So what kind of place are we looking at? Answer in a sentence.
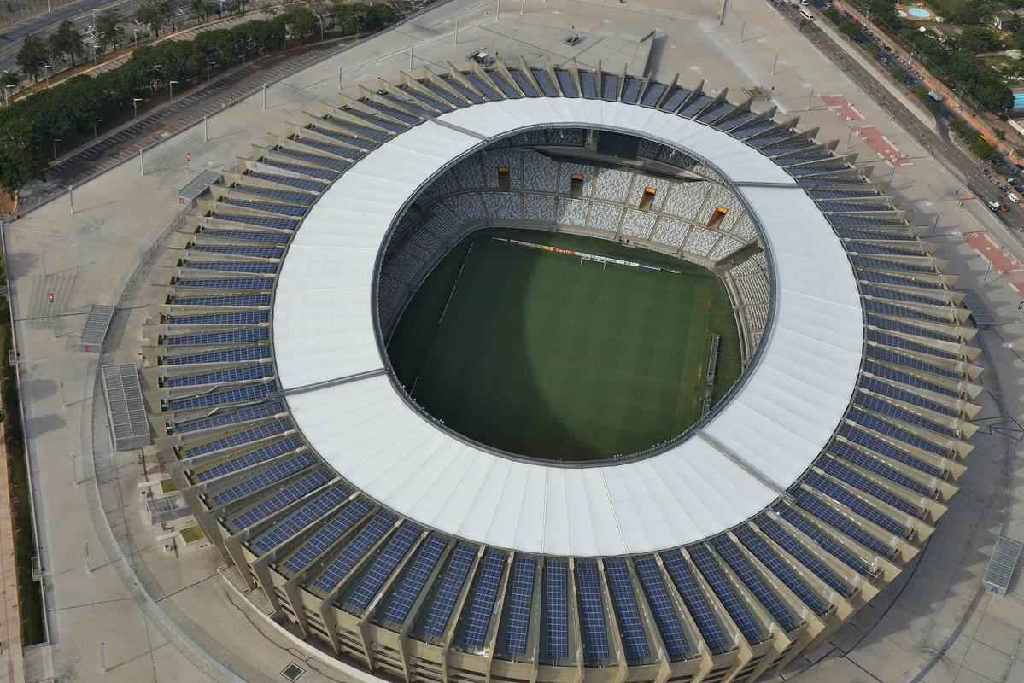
The picture captures a sports ground.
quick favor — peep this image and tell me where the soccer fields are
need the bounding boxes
[386,224,742,463]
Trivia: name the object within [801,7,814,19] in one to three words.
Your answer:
vehicle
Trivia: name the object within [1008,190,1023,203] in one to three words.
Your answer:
vehicle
